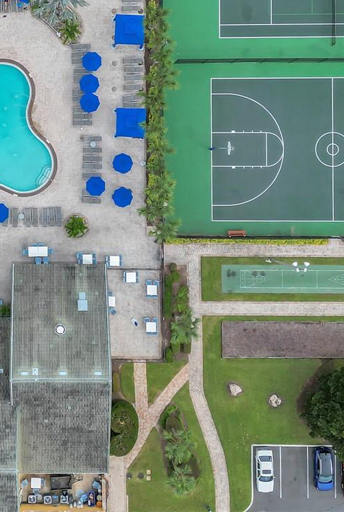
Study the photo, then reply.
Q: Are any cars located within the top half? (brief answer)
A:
No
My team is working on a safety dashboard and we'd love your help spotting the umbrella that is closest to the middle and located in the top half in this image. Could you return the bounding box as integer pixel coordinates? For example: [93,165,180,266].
[111,186,133,208]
